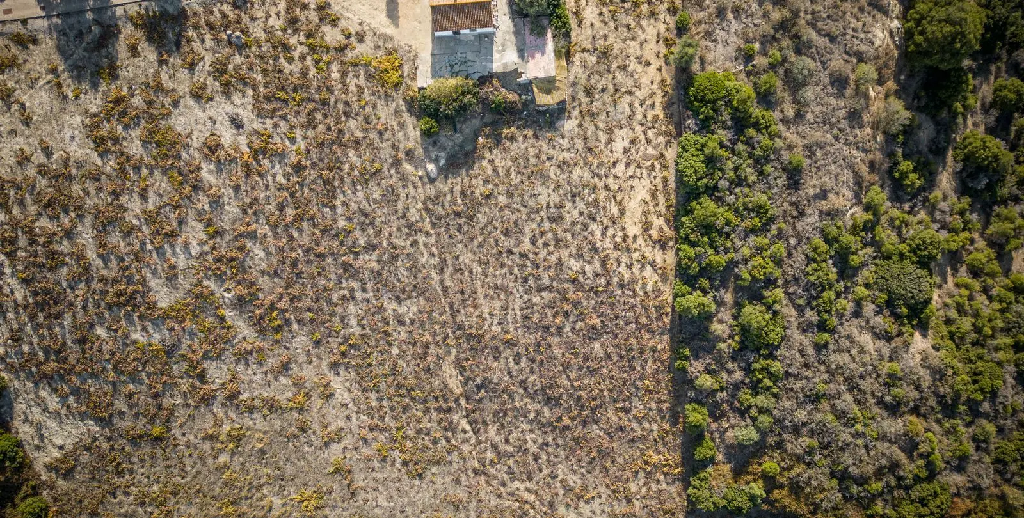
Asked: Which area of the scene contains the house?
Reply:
top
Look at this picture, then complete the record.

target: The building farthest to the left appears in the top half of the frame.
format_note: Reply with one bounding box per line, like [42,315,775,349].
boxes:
[430,0,494,37]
